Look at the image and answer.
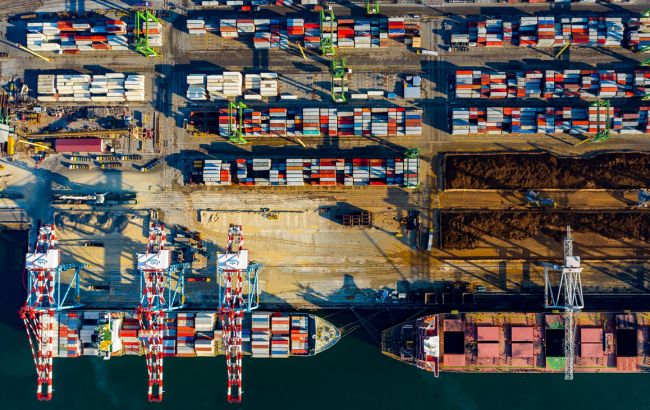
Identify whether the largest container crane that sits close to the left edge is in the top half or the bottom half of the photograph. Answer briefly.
bottom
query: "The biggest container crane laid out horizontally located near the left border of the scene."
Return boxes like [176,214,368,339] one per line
[23,127,143,144]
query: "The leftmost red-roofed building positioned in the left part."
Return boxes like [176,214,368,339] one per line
[53,138,103,152]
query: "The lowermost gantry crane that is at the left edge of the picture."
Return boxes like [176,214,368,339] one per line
[13,225,93,400]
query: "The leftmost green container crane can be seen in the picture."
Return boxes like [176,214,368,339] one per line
[136,13,162,58]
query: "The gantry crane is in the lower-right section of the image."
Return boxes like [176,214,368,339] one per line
[538,225,590,380]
